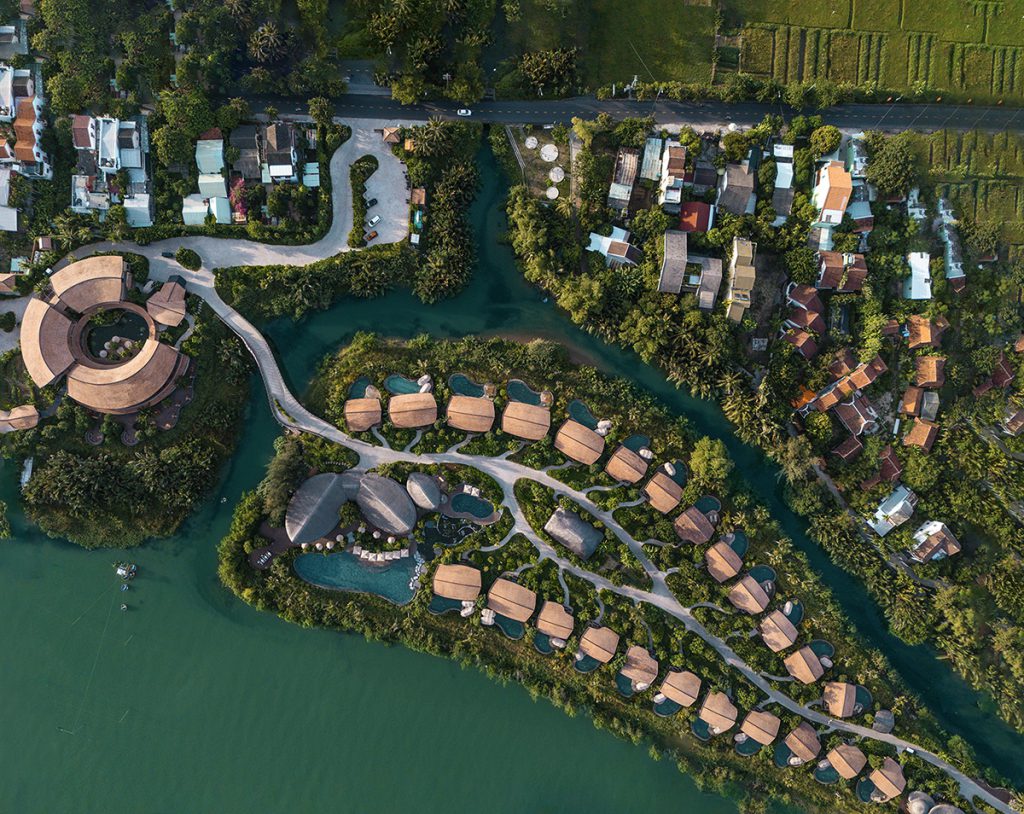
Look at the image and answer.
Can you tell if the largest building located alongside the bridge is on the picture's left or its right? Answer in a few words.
left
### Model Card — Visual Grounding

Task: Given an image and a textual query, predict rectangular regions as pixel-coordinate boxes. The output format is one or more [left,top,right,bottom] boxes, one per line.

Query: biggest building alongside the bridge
[20,256,190,412]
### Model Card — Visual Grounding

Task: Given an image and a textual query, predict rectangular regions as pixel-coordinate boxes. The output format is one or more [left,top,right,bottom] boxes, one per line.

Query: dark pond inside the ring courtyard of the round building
[86,308,146,364]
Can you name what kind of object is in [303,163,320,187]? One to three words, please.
building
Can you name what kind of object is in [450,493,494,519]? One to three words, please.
swimming pool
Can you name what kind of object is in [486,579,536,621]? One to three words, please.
house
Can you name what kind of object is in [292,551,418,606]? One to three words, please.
swimming pool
